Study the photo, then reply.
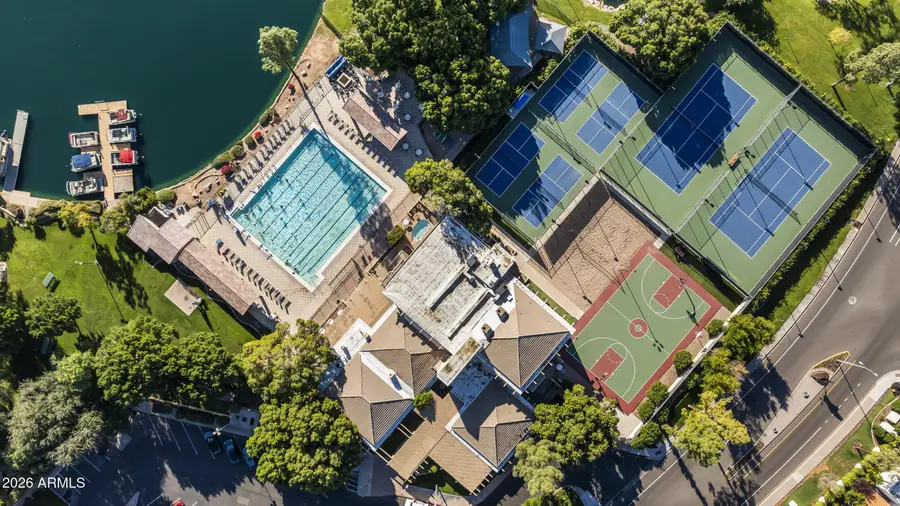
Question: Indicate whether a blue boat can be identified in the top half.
Yes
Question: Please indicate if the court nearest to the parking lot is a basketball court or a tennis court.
basketball court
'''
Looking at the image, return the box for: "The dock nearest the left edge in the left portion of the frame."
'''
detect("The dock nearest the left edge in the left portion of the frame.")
[3,110,30,192]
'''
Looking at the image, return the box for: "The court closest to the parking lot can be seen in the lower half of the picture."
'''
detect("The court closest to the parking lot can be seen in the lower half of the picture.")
[557,241,722,415]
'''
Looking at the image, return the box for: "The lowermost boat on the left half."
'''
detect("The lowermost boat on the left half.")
[58,178,101,197]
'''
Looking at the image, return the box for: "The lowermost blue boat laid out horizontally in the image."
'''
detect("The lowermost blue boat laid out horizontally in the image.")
[63,154,101,171]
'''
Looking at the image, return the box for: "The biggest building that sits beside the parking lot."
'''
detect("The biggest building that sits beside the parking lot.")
[311,216,574,473]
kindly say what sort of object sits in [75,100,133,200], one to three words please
pier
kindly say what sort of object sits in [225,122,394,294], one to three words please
swimming pool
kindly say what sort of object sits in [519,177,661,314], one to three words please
sports court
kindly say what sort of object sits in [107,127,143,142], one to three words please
boat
